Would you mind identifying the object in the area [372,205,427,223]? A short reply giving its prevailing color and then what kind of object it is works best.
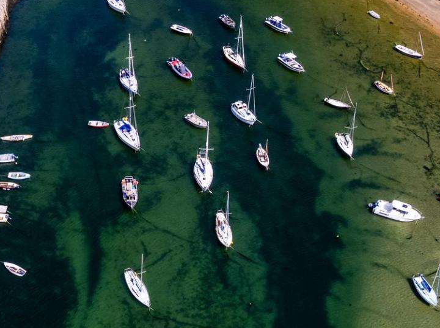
white boat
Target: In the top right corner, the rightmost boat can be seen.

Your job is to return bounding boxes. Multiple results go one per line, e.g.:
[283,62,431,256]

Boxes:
[394,35,427,63]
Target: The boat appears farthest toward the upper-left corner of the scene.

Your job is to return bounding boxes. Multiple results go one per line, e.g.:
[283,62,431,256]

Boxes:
[104,0,125,15]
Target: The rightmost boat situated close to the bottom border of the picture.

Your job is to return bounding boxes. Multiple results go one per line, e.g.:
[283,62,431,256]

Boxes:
[411,259,440,313]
